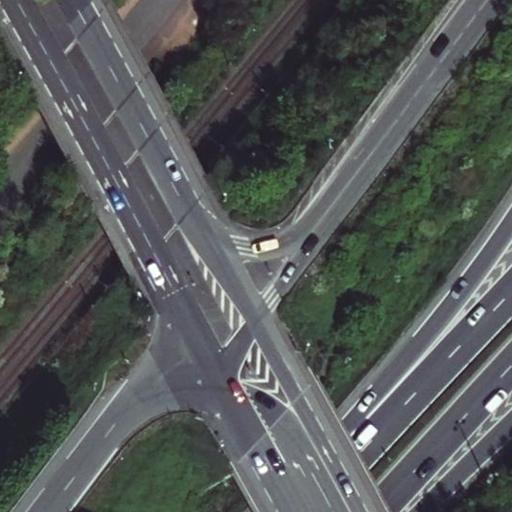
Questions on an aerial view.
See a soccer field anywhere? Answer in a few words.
No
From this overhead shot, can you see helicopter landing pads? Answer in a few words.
No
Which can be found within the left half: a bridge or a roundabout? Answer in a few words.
bridge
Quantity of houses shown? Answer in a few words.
none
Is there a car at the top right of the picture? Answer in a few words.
Yes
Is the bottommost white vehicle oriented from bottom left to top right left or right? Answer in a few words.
right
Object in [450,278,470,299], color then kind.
gray car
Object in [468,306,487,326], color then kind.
white car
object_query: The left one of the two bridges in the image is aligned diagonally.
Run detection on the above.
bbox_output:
[0,0,222,292]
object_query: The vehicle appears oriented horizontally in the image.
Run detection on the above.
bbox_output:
[252,238,280,254]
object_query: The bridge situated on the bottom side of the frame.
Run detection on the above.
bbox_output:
[201,308,388,512]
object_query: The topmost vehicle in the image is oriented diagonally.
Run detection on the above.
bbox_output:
[430,35,449,56]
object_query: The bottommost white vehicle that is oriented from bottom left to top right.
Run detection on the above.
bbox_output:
[355,423,380,450]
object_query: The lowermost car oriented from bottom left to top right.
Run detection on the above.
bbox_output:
[416,457,436,478]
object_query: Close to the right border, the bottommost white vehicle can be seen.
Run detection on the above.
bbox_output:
[486,390,508,412]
